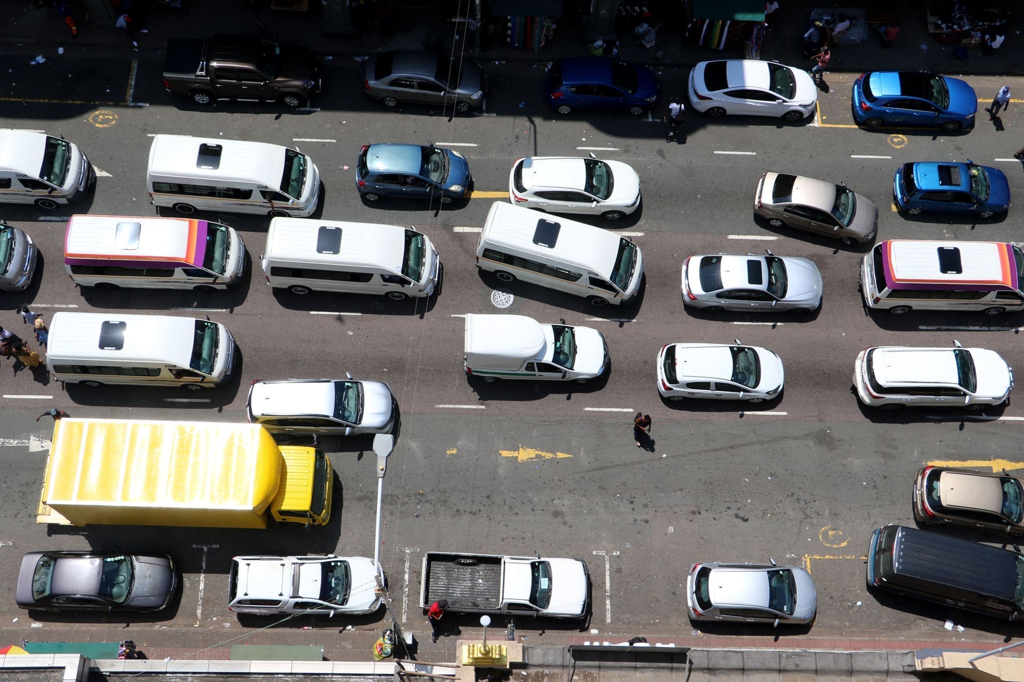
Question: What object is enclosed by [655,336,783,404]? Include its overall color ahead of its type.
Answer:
white car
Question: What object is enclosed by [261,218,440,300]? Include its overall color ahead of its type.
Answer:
white vehicle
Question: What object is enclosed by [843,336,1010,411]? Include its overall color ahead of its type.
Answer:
white car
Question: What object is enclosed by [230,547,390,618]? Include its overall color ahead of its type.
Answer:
white truck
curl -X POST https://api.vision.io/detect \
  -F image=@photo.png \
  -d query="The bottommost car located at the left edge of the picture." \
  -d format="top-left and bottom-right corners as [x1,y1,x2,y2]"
[11,542,183,617]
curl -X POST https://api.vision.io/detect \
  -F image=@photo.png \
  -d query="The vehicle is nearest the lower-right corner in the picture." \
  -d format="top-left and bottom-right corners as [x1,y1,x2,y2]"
[858,531,1024,629]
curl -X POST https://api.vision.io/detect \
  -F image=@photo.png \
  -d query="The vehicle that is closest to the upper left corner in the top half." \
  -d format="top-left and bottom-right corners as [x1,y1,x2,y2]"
[0,134,93,214]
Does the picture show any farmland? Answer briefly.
No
